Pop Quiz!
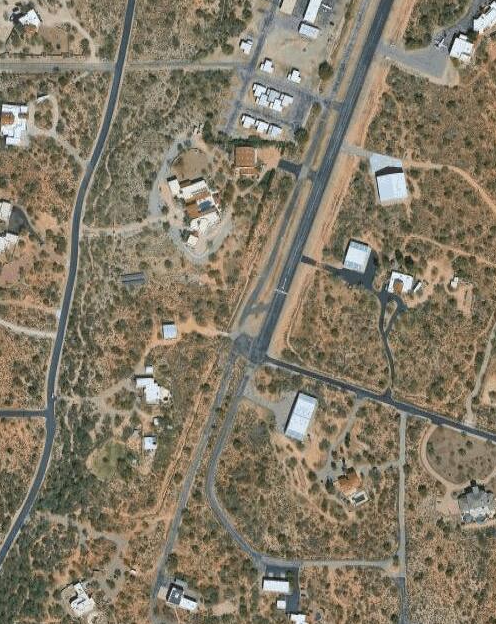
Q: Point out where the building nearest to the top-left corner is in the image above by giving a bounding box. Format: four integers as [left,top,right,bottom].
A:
[19,9,41,34]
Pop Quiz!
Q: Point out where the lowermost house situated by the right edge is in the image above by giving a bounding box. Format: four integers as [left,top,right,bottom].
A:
[460,486,495,514]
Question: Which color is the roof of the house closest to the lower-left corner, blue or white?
white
